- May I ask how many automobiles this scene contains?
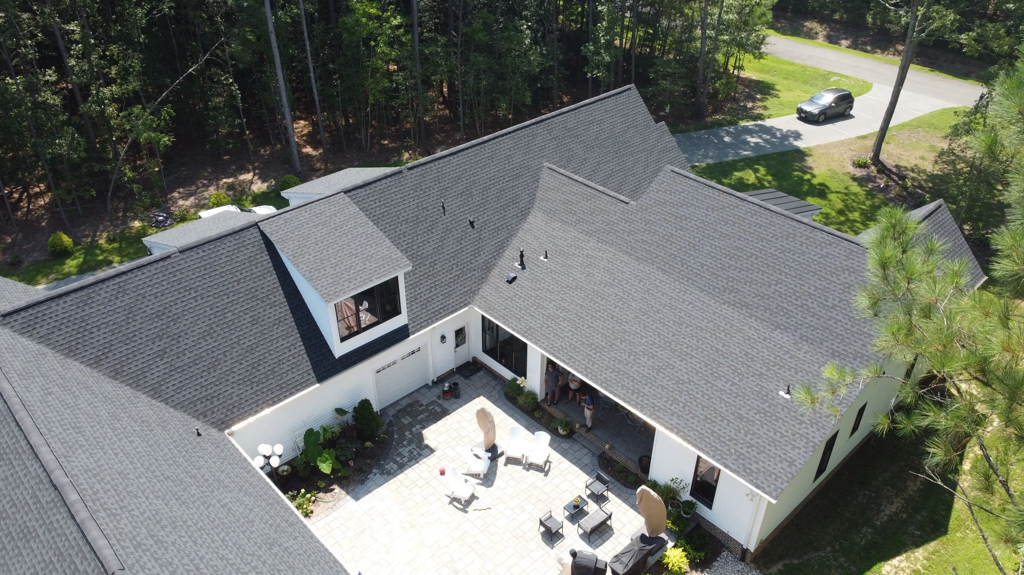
2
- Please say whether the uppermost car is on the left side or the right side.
right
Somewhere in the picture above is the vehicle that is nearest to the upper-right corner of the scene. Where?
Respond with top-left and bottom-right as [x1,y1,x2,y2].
[798,86,860,123]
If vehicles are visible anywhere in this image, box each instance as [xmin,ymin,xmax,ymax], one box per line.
[798,86,860,123]
[191,202,280,222]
